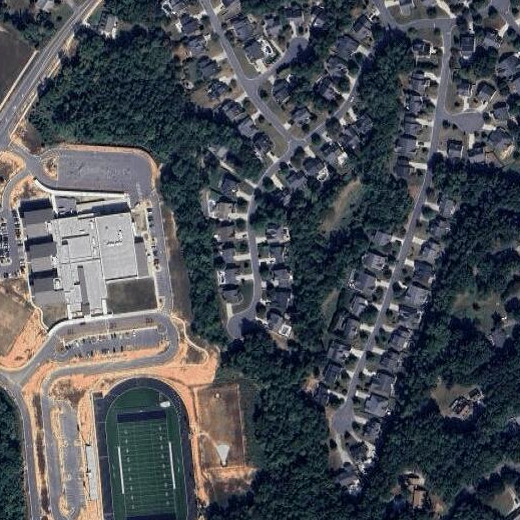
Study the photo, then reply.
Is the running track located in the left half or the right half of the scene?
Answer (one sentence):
The running track appears in the left half of the scene.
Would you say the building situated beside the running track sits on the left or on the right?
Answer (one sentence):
The building situated beside the running track is on the left side of the image.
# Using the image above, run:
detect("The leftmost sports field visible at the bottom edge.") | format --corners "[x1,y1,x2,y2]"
[105,386,188,520]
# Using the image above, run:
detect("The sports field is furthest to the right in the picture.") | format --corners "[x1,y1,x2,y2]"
[197,386,245,467]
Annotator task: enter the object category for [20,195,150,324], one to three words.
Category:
building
